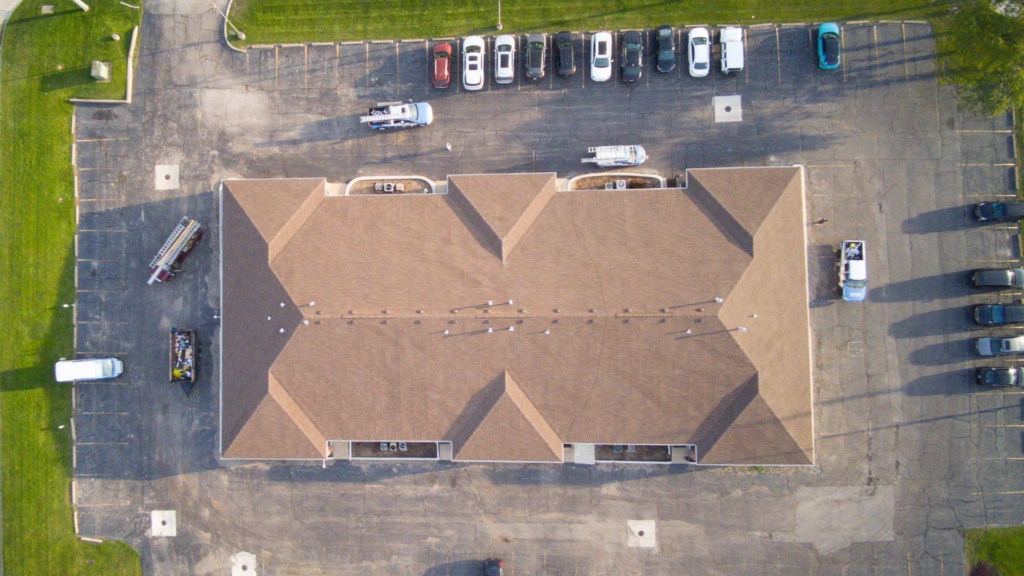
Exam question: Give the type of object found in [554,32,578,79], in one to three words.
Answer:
car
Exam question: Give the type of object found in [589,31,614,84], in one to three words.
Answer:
car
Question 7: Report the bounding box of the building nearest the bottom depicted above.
[219,164,817,466]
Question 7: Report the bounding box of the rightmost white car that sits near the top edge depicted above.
[686,28,712,79]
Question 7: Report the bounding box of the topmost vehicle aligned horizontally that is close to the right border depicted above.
[971,199,1024,224]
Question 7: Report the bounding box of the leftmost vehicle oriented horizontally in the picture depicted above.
[54,357,124,382]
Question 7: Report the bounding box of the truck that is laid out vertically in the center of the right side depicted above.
[840,239,871,302]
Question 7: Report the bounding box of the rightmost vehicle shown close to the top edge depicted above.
[814,24,842,72]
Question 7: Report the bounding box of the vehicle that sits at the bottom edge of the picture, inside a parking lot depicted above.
[484,555,504,576]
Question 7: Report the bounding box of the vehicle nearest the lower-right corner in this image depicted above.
[974,365,1024,389]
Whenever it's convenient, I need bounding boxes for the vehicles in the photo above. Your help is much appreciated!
[686,28,712,79]
[589,31,614,84]
[430,44,452,90]
[971,199,1024,224]
[594,143,647,171]
[554,32,578,79]
[970,265,1024,290]
[484,555,504,576]
[814,24,842,72]
[974,334,1024,359]
[972,302,1024,328]
[974,365,1024,389]
[524,34,548,83]
[654,25,678,75]
[369,96,433,131]
[620,32,645,84]
[493,36,516,85]
[156,223,209,283]
[461,38,485,92]
[840,239,871,302]
[54,357,124,382]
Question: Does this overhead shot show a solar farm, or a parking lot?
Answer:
parking lot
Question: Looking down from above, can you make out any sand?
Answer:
No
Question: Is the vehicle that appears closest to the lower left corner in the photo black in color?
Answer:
No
